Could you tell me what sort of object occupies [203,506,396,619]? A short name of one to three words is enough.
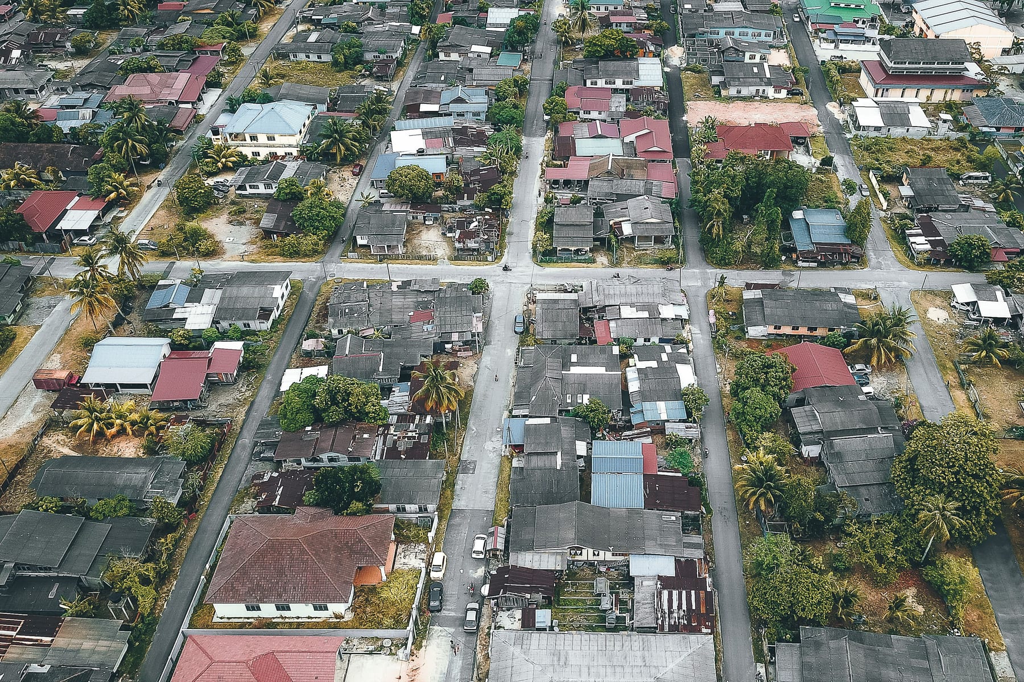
house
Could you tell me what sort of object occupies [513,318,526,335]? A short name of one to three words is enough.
vehicle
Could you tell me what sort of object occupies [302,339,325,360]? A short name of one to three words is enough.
shed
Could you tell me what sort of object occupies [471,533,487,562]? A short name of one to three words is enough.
car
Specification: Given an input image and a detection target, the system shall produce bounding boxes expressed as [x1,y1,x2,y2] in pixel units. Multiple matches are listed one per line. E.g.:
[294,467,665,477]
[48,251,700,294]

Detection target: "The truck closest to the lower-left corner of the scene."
[23,366,86,396]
